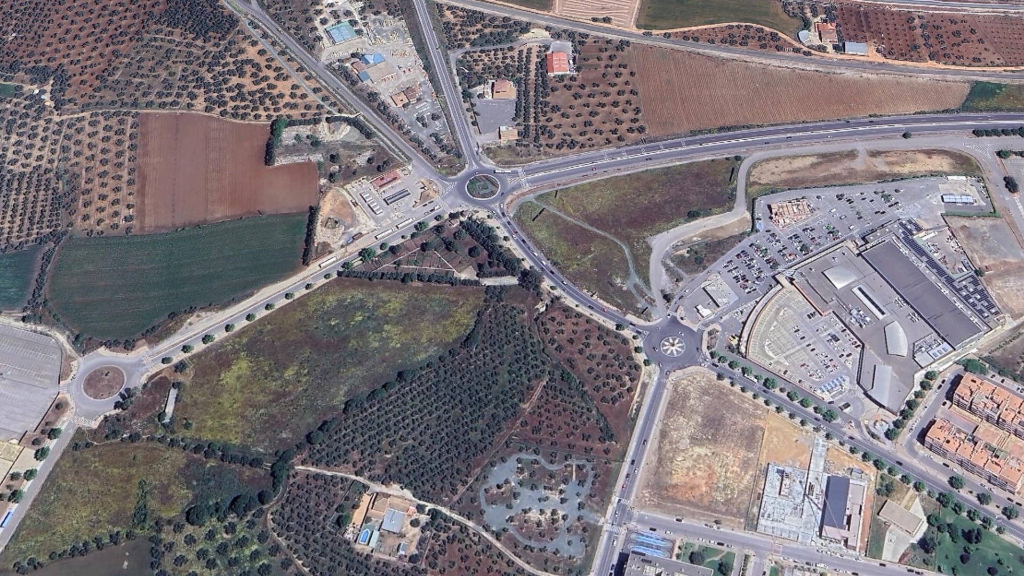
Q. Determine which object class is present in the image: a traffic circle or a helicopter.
traffic circle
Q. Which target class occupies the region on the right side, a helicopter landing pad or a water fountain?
water fountain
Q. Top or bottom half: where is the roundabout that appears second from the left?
top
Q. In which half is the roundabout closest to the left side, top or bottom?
bottom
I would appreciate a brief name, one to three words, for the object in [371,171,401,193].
building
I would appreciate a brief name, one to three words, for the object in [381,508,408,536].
building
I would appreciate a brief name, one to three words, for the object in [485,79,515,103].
house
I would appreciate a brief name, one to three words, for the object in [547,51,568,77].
shed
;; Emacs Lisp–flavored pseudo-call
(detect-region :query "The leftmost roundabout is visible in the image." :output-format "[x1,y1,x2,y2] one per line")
[71,356,137,410]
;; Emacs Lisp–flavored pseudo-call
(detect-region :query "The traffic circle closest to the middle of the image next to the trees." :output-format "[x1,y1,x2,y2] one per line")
[439,158,539,210]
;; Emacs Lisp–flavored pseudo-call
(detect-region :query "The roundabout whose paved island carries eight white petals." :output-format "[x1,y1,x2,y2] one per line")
[644,323,701,369]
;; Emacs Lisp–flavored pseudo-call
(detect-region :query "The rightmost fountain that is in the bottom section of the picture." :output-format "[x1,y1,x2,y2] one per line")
[867,414,893,439]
